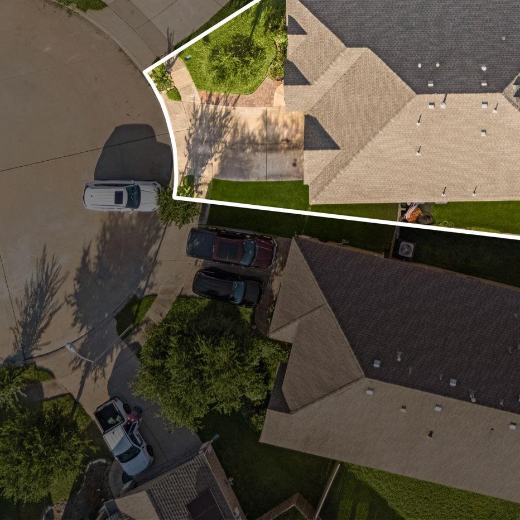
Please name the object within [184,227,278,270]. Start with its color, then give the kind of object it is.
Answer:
black truck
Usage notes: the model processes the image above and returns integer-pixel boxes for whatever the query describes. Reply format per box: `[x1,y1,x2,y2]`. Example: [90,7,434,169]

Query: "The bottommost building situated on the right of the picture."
[259,237,520,504]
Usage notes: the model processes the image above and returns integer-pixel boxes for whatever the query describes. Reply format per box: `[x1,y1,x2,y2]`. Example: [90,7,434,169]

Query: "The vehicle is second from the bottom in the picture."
[191,264,264,307]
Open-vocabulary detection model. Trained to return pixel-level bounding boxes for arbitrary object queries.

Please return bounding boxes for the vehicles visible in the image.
[191,264,264,307]
[83,179,162,214]
[90,389,158,478]
[184,227,278,270]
